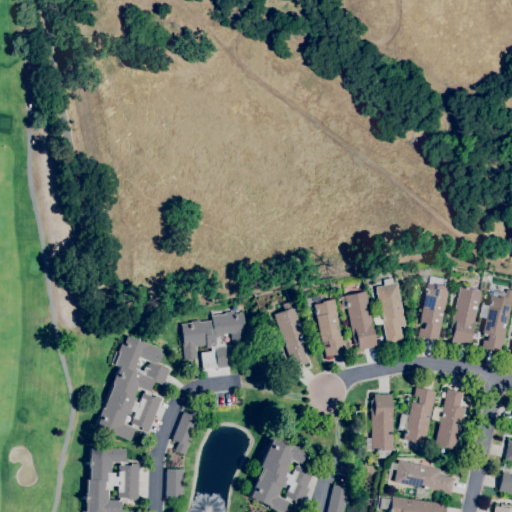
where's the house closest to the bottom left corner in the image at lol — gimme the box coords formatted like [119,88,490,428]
[88,450,140,512]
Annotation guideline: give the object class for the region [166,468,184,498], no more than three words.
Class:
house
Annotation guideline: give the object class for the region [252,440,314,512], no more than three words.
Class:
house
